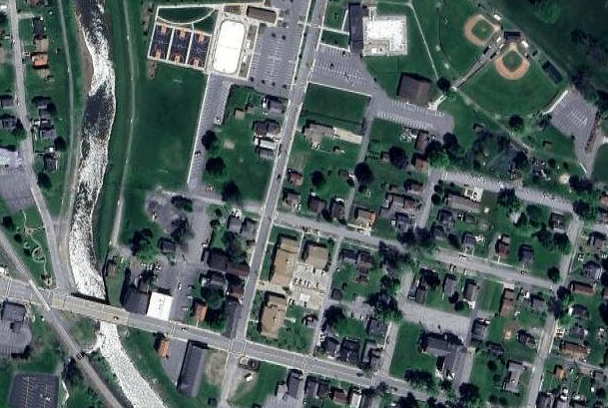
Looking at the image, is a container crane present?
No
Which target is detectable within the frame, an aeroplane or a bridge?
bridge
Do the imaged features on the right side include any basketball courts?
No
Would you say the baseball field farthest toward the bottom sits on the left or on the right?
right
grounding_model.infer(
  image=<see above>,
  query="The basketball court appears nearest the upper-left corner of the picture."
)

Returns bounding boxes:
[149,24,173,59]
